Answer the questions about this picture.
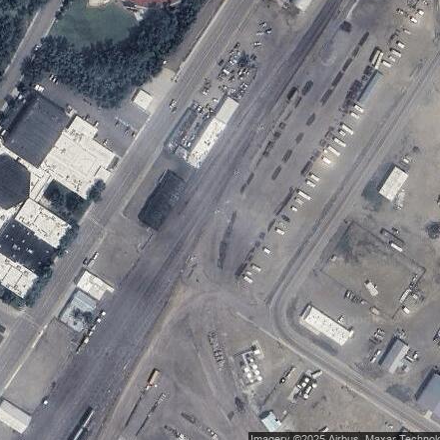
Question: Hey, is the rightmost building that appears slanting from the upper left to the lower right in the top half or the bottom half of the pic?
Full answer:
The bottom half of the photo is where the rightmost building that appears slanting from the upper left to the lower right is.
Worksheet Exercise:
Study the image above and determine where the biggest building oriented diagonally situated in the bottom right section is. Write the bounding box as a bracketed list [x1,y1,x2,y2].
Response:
[303,305,355,347]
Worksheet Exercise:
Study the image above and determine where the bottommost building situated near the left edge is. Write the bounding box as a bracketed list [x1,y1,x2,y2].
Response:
[0,400,32,433]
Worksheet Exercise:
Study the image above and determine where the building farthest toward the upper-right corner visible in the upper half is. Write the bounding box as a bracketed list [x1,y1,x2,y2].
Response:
[359,71,385,105]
